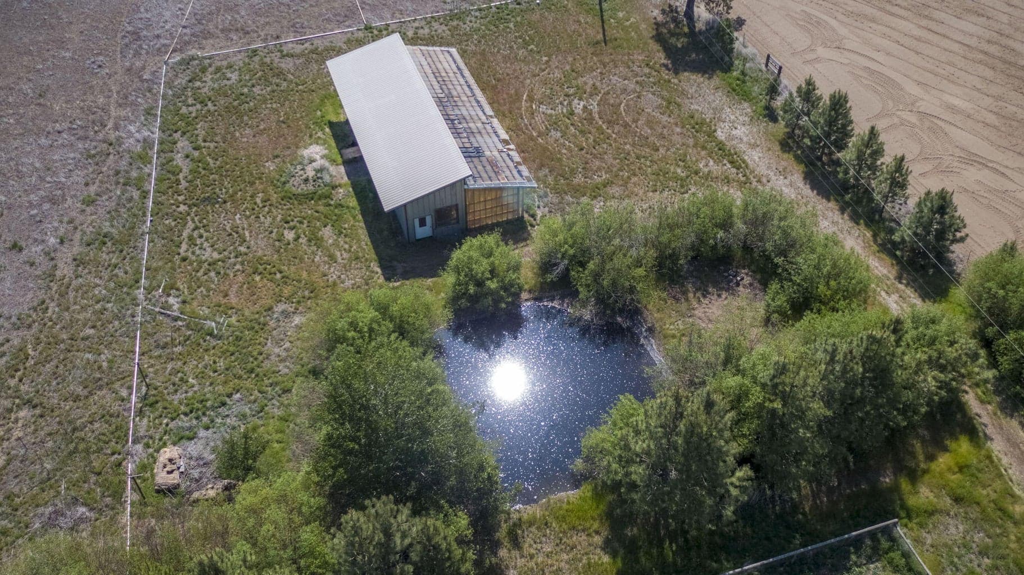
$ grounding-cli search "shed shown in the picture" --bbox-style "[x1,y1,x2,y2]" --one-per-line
[328,32,537,243]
